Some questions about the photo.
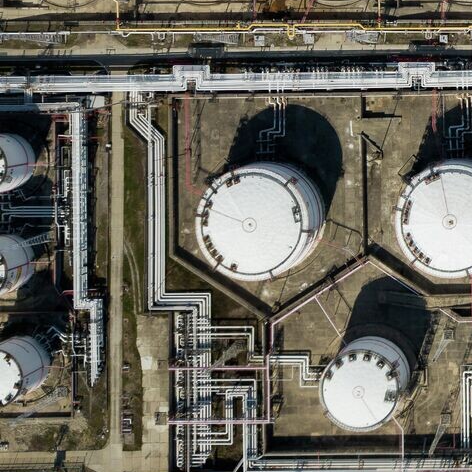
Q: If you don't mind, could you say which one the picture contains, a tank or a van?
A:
tank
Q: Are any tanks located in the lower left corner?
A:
Yes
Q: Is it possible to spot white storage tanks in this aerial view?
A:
Yes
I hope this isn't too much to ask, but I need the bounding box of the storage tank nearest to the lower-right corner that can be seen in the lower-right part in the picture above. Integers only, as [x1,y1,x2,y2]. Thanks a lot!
[320,323,427,430]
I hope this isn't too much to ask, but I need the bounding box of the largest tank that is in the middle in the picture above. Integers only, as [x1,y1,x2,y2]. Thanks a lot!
[194,156,330,283]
